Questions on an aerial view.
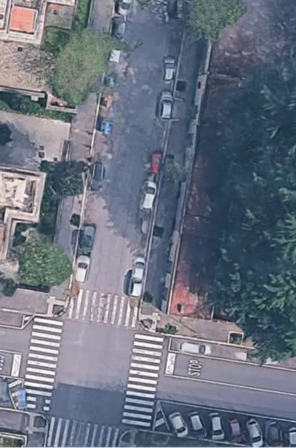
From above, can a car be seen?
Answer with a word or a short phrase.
Yes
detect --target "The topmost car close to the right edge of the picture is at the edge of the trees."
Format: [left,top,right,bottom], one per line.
[261,357,282,370]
